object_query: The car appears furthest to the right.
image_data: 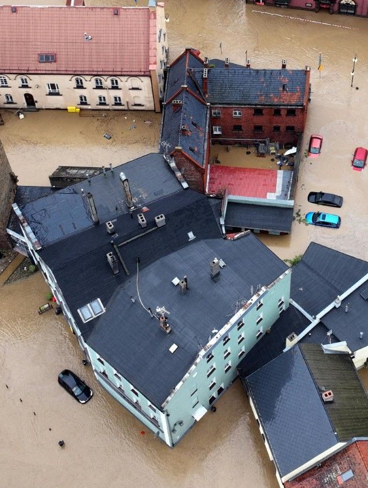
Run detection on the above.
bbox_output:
[351,145,368,171]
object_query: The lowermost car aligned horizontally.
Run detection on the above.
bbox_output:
[305,210,341,227]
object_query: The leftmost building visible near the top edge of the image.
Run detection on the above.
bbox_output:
[0,0,168,115]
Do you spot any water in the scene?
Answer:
Yes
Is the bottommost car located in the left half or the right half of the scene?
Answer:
left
